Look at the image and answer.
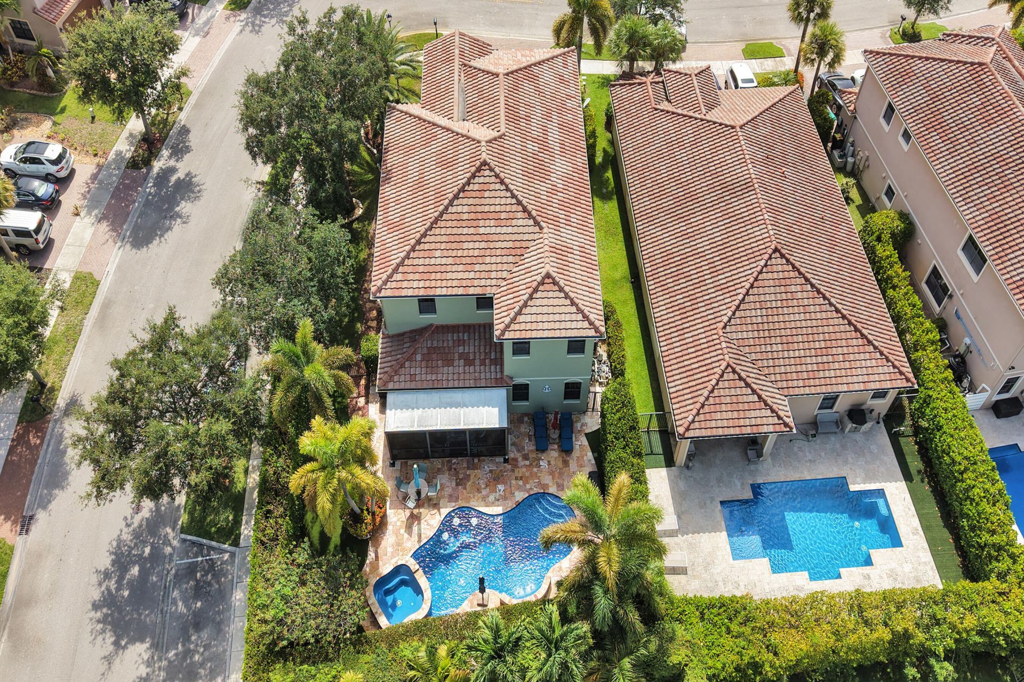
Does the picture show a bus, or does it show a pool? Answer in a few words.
pool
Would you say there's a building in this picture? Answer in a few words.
Yes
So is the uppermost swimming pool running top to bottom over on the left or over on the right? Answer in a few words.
right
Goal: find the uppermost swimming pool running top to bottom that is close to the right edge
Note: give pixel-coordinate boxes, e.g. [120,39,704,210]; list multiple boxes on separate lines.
[983,437,1024,537]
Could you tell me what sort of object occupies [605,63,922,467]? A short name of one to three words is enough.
house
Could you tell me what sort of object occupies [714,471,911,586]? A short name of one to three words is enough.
swimming pool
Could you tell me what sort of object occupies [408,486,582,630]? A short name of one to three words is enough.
swimming pool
